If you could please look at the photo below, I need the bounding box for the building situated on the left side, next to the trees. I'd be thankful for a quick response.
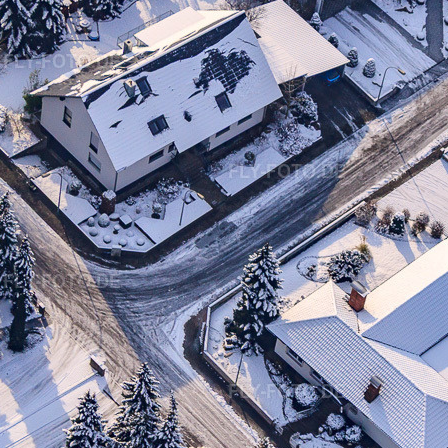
[30,4,283,184]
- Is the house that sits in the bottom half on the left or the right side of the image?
right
